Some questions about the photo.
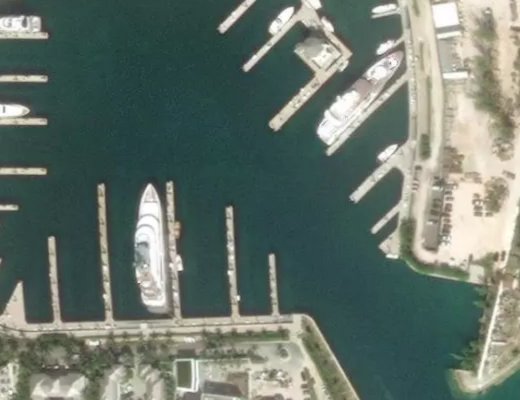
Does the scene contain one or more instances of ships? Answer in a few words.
Yes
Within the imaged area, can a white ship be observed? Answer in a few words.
Yes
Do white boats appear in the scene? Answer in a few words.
Yes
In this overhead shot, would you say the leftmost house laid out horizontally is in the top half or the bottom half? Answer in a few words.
bottom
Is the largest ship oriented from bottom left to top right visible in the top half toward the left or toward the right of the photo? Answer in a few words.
right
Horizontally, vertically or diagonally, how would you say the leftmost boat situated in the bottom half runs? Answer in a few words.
vertically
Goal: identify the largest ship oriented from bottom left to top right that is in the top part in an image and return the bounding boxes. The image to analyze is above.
[316,51,401,145]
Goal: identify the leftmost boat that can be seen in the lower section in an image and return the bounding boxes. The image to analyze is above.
[137,183,167,312]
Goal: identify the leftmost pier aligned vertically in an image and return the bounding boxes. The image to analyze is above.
[48,236,61,319]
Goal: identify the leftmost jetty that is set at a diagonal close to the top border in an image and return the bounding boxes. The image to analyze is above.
[218,0,259,35]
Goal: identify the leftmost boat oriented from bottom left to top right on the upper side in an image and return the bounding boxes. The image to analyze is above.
[268,8,294,36]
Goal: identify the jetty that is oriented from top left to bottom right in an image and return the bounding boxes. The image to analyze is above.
[295,0,352,54]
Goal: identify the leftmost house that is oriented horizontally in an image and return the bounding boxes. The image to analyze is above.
[26,370,92,400]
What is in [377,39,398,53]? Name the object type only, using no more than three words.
boat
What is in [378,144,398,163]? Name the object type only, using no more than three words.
boat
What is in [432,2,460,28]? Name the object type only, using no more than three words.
building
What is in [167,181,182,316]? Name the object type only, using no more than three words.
pier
